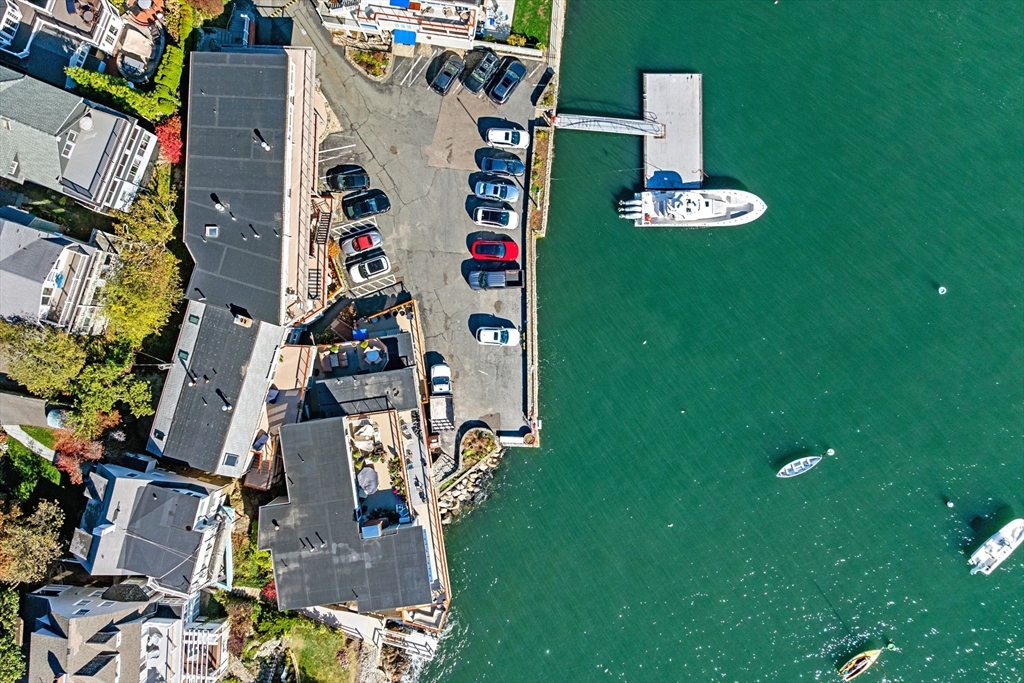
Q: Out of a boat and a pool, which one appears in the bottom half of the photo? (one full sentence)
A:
What appears in the bottom half of the photo is a boat.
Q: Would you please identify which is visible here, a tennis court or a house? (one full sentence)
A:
There is a house in the scene.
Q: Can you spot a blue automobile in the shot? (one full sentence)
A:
Yes, you can see a blue automobile in this photo.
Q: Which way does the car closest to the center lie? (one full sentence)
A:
The car closest to the center is laid out from side to side.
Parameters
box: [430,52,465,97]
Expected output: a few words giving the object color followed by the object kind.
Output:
gray car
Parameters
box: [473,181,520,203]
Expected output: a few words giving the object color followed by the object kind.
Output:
blue car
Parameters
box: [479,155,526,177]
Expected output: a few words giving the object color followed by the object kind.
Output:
blue car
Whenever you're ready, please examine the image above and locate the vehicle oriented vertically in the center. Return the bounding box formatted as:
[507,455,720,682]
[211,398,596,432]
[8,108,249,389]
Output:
[429,365,453,434]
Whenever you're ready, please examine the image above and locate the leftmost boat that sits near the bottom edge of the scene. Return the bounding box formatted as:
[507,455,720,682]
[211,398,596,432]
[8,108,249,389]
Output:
[839,649,894,683]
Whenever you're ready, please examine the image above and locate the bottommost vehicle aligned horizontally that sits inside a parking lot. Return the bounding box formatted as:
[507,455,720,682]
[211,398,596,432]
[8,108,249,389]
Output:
[475,326,521,348]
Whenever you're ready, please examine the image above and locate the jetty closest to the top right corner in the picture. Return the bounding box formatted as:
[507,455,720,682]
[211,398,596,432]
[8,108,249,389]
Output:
[642,72,704,189]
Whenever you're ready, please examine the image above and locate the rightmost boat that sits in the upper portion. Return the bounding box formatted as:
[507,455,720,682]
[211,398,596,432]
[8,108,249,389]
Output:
[617,179,768,225]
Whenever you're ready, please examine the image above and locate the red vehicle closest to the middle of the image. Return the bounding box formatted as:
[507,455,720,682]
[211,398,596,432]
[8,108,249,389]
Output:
[472,239,518,262]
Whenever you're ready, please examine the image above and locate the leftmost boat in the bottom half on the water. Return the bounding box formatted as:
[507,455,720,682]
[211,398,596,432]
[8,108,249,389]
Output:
[776,456,824,478]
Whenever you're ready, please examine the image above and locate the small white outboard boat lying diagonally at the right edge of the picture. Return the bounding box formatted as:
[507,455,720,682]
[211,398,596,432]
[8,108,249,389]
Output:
[971,515,1024,576]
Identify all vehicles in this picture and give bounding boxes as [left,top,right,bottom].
[485,127,530,150]
[342,192,392,220]
[430,52,465,97]
[341,231,384,257]
[490,59,526,106]
[45,408,92,431]
[473,181,520,203]
[429,365,453,434]
[479,155,526,177]
[472,207,519,229]
[326,170,373,193]
[348,256,392,282]
[475,326,521,348]
[468,268,525,292]
[472,239,518,262]
[463,47,499,96]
